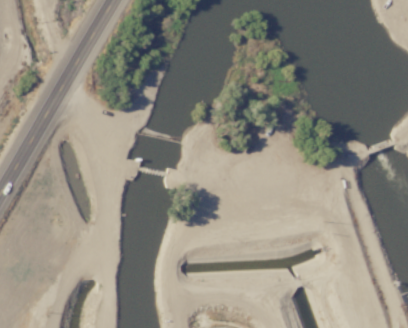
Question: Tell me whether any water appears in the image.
Yes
